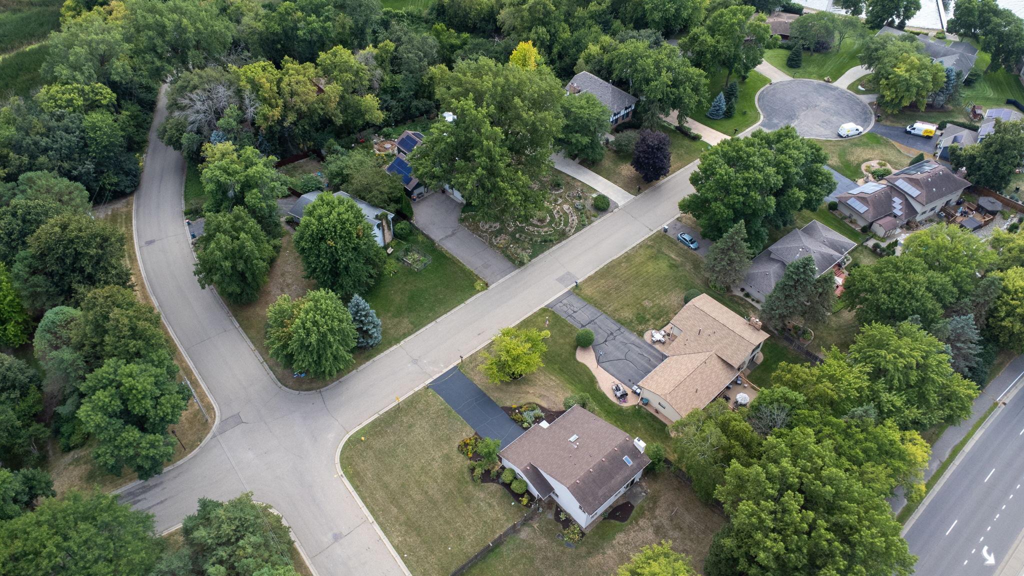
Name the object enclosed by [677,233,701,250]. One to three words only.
car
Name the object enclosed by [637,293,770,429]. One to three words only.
house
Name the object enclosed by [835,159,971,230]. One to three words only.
house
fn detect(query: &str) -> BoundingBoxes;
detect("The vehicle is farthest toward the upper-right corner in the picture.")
[905,122,937,139]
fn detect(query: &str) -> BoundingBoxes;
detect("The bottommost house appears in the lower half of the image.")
[498,405,652,528]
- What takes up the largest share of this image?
trees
